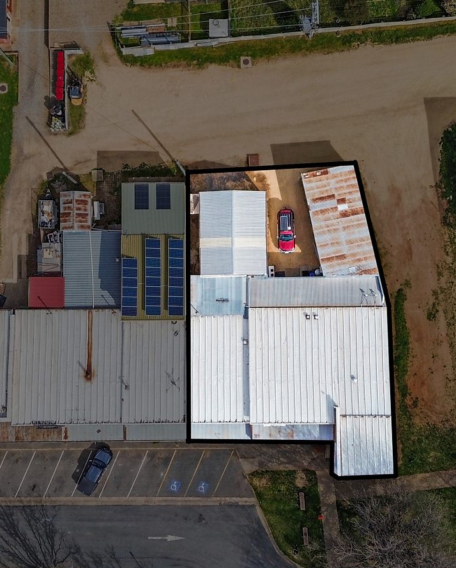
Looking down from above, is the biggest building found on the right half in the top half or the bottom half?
bottom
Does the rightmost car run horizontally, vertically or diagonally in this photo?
vertically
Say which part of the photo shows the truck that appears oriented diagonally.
bottom left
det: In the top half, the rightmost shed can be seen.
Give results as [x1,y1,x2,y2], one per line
[299,165,381,276]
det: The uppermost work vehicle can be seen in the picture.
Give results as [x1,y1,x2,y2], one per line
[66,75,84,108]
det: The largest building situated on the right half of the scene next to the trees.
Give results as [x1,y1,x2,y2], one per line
[190,275,397,477]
